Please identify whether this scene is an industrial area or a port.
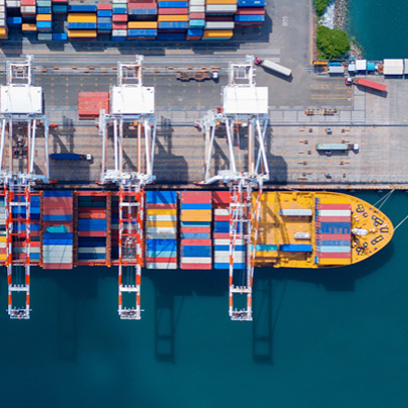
port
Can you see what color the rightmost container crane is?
white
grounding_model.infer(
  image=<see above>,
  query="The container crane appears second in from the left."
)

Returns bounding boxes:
[90,53,161,320]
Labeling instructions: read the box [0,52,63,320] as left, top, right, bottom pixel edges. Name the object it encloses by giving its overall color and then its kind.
white container crane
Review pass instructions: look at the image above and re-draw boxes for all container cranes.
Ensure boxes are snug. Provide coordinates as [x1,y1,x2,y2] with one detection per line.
[187,54,272,321]
[90,53,161,320]
[0,52,63,320]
